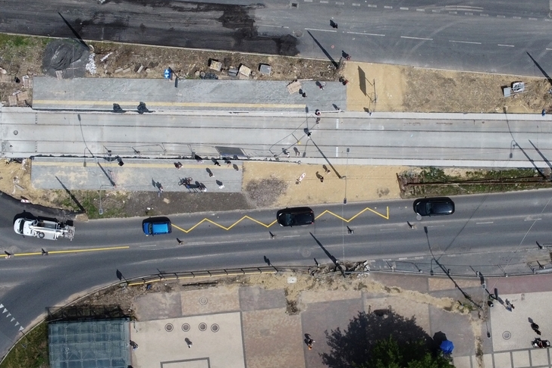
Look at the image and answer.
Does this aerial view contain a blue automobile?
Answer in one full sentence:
Yes, a blue automobile is visible in the scene.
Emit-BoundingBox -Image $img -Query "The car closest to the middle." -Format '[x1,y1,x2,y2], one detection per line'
[277,207,315,226]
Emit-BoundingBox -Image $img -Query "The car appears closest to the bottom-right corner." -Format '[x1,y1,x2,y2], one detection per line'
[413,198,454,217]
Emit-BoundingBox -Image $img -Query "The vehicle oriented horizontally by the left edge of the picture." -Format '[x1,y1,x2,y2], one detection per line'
[15,215,82,240]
